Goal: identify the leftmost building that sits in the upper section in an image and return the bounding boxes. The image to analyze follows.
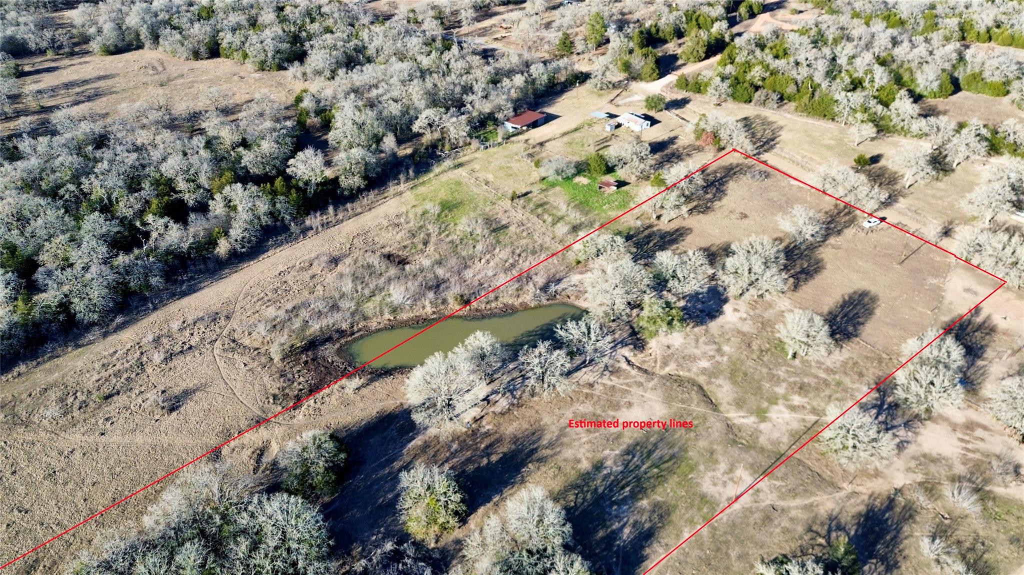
[503,112,546,132]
